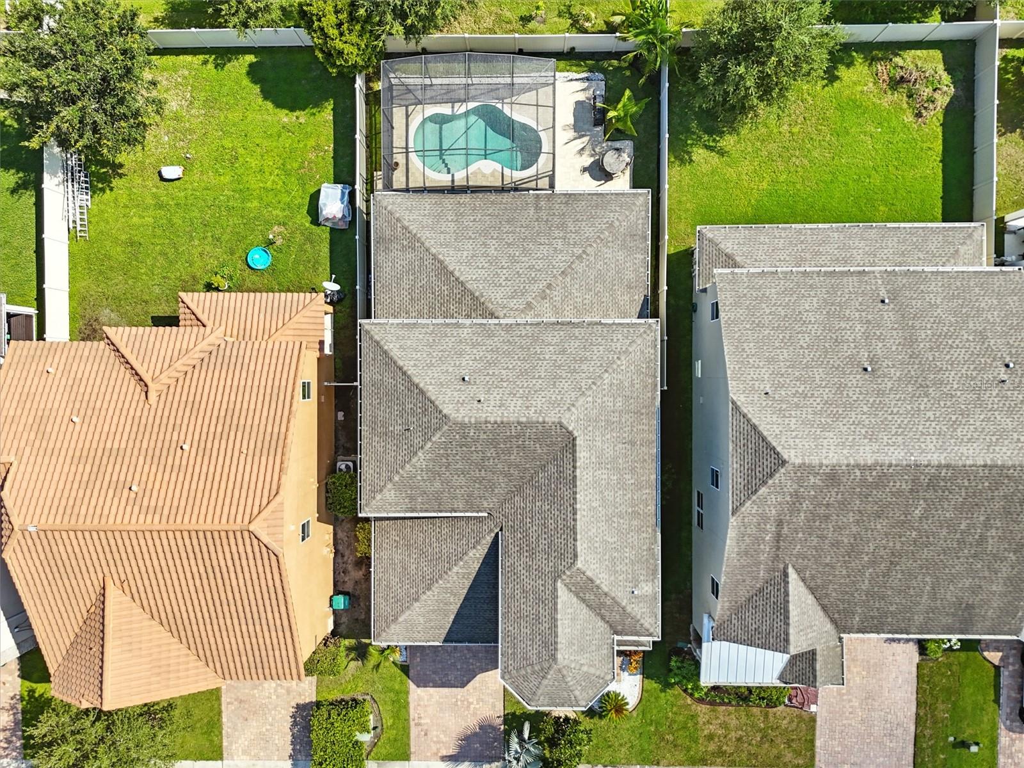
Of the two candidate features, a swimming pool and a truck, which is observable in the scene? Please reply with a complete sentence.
This aerial view contains a swimming pool.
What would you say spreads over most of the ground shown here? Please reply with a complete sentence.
What you mostly see from above here is buildings.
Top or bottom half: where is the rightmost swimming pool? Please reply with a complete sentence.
Seen from above, the rightmost swimming pool lies in the top half of the view.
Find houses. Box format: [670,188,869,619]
[359,191,660,711]
[691,224,1024,690]
[0,291,335,715]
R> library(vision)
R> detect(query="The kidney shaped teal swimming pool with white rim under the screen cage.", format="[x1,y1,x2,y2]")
[407,98,548,180]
